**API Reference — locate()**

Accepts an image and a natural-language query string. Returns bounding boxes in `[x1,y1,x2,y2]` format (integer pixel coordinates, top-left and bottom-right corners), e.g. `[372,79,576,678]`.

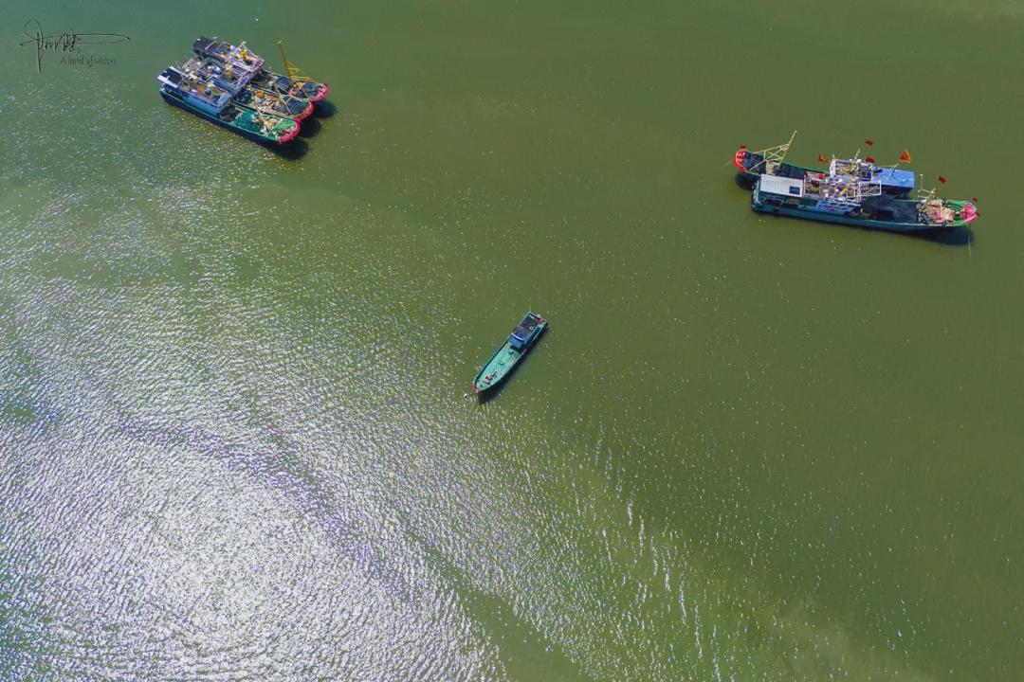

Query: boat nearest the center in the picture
[472,308,546,393]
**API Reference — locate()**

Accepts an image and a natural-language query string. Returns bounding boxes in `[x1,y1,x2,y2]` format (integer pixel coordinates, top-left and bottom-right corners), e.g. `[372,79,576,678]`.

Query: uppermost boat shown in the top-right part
[701,129,916,197]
